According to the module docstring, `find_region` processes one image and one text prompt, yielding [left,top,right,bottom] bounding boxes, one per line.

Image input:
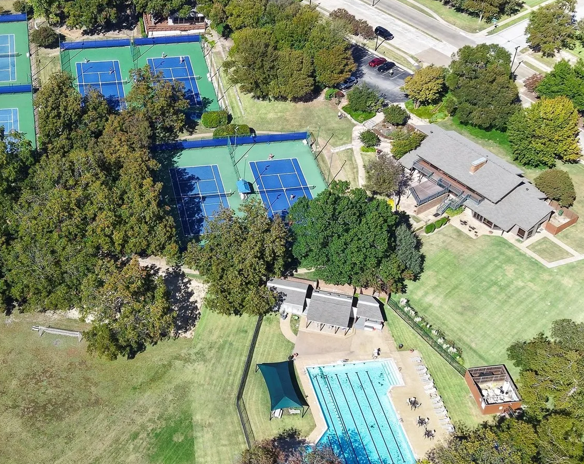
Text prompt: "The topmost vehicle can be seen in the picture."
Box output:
[377,24,393,36]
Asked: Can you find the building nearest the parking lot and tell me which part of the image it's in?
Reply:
right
